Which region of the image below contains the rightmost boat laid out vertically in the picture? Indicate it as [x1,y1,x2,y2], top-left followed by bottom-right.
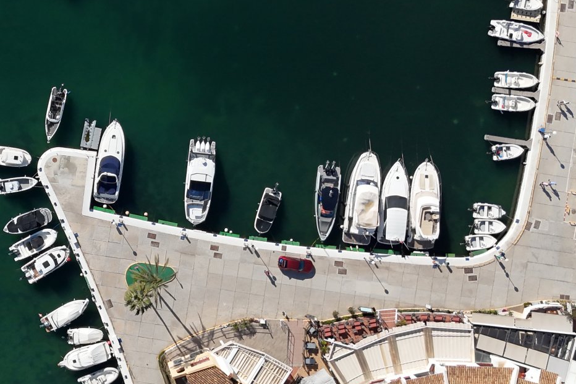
[407,158,443,248]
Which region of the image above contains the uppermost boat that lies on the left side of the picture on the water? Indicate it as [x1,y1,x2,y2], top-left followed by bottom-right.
[45,78,68,144]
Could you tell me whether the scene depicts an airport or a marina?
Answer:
marina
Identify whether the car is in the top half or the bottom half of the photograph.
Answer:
bottom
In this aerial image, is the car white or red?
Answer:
red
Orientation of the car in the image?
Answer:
from left to right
